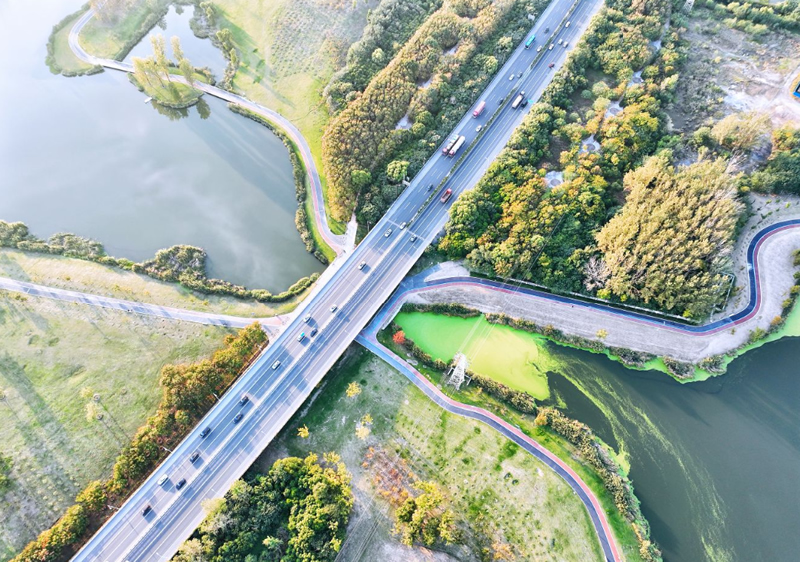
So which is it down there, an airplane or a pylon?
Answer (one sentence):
Looking from above, you can make out a pylon.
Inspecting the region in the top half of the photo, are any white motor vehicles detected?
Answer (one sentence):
Yes, a white motor vehicle shows up in the top half of the photo.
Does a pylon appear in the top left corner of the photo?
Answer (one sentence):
No, there is no pylon in the top left corner of the photo.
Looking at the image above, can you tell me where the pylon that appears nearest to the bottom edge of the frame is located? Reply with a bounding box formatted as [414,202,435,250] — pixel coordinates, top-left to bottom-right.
[445,352,474,393]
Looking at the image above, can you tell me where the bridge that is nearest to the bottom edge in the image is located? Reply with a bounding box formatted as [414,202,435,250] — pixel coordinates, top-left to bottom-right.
[62,217,430,562]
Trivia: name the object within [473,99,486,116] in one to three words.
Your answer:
vehicle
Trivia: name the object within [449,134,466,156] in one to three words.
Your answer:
vehicle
